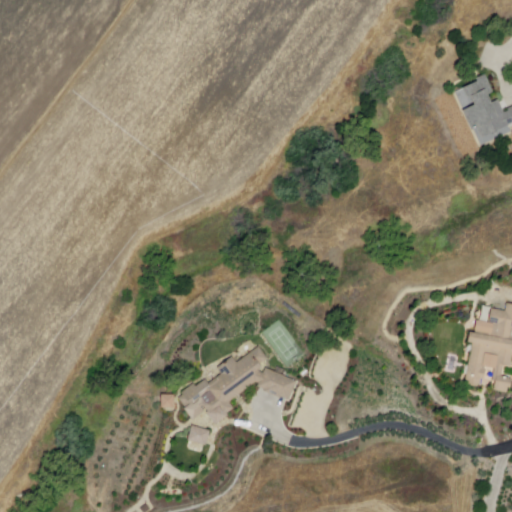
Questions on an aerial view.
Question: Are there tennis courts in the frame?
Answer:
Yes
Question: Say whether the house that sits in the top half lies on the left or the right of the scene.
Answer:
right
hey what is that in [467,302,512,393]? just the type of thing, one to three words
house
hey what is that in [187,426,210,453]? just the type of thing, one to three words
house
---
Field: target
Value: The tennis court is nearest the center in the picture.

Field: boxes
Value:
[262,321,303,366]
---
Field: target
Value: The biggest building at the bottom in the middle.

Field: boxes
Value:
[177,348,300,426]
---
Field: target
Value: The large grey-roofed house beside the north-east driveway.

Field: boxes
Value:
[456,76,512,145]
